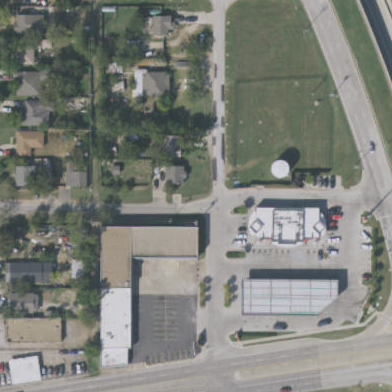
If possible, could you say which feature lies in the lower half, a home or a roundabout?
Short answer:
home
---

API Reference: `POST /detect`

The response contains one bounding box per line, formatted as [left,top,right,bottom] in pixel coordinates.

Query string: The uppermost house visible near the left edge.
[14,14,44,32]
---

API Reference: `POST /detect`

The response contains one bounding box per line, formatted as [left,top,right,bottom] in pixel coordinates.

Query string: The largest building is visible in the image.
[100,226,198,368]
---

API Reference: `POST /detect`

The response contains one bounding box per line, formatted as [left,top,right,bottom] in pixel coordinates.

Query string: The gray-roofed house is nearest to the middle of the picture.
[166,166,186,184]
